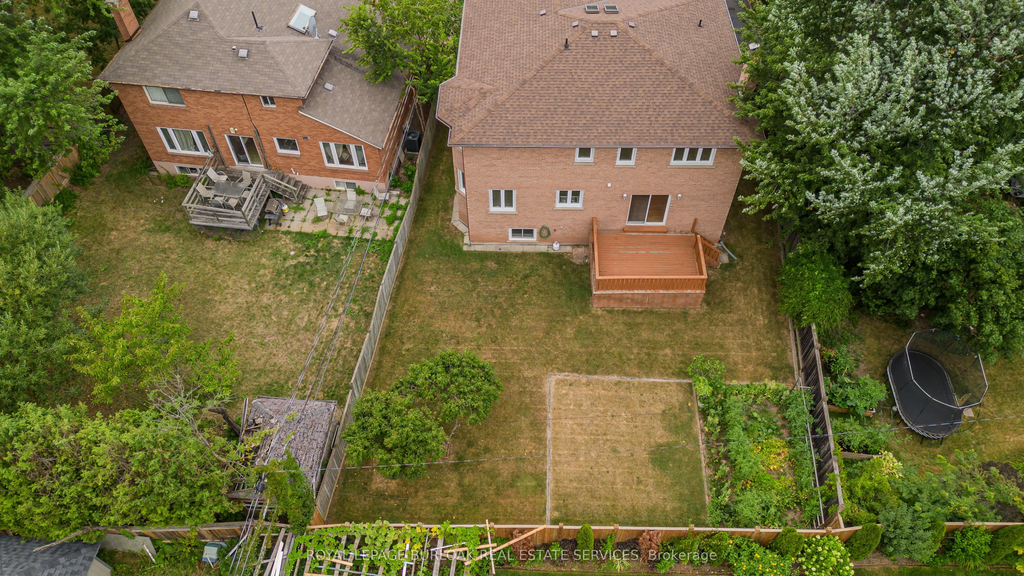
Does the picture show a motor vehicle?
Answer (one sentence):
No, there is no motor vehicle in the image.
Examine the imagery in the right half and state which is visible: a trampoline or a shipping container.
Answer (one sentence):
The feature located in the right half is a trampoline.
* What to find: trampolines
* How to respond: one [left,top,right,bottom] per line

[876,330,991,447]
